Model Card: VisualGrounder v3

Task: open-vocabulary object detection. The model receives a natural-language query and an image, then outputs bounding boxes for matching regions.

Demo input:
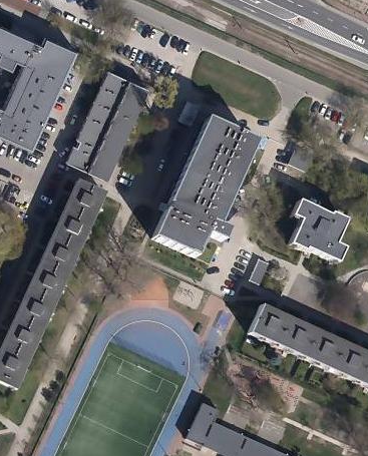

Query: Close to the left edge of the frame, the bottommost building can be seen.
[0,179,107,389]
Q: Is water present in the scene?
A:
No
